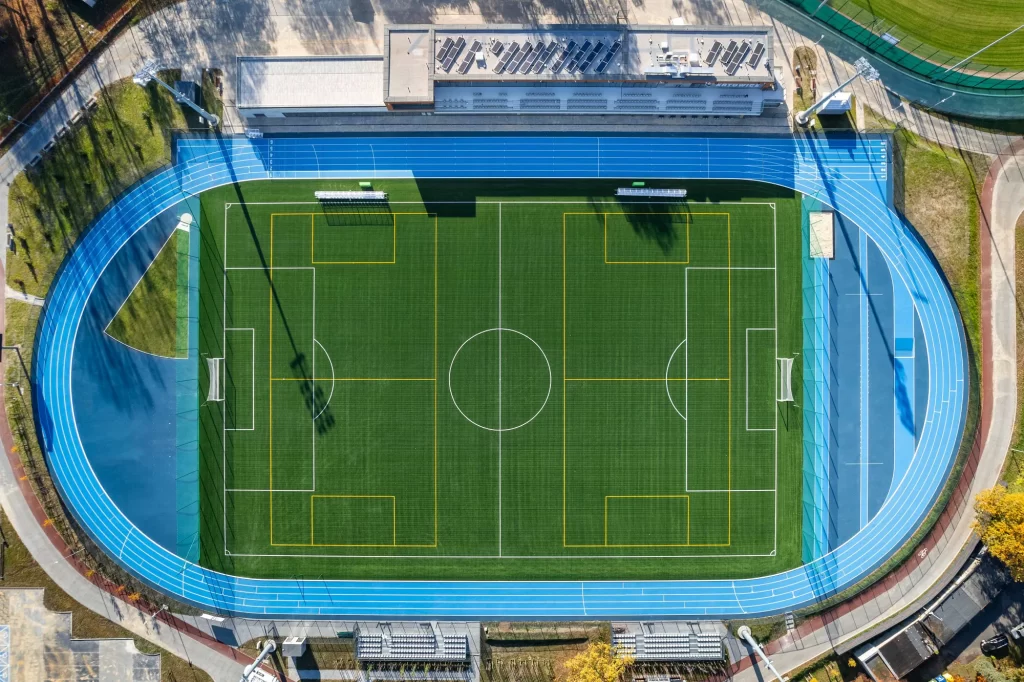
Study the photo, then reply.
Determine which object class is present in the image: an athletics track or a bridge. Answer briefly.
athletics track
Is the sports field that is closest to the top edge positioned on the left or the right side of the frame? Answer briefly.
right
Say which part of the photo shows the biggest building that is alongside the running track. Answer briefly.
top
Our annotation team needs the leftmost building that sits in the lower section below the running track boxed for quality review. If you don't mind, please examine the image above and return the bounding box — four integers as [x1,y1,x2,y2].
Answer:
[281,637,306,657]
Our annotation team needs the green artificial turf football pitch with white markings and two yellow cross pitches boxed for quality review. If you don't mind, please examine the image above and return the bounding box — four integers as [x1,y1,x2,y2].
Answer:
[200,178,803,582]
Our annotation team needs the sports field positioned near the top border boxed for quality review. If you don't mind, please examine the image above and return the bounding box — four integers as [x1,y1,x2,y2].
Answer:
[801,0,1024,91]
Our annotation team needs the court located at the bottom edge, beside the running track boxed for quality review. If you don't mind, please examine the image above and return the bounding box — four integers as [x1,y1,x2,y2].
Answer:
[0,587,162,682]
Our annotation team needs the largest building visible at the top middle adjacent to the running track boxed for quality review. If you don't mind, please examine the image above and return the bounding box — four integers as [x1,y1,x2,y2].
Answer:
[237,25,786,122]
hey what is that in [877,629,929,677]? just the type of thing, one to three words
building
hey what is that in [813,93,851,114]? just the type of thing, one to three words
building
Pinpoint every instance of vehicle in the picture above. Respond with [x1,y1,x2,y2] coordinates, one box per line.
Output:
[243,668,277,682]
[978,634,1008,651]
[1009,618,1024,637]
